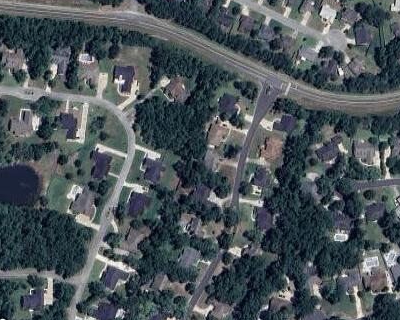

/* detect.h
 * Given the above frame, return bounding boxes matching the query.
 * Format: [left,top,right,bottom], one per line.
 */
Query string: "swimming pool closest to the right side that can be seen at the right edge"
[383,247,398,264]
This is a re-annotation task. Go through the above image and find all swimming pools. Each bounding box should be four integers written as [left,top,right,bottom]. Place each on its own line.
[69,183,81,199]
[335,233,347,242]
[363,254,380,269]
[383,247,398,264]
[80,53,92,61]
